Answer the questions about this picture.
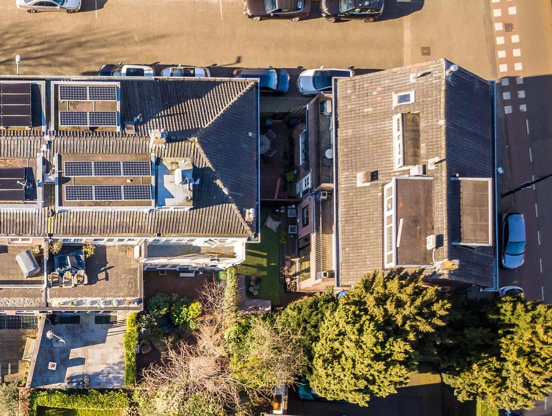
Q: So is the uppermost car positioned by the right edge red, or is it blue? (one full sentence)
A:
The color of the uppermost car positioned by the right edge is blue.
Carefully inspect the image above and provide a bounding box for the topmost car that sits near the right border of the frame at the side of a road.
[497,210,529,276]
